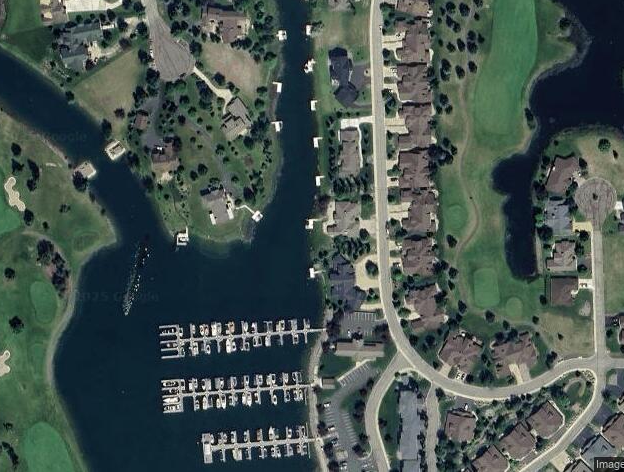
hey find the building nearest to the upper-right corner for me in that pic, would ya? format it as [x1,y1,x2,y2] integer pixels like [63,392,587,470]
[545,153,583,194]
